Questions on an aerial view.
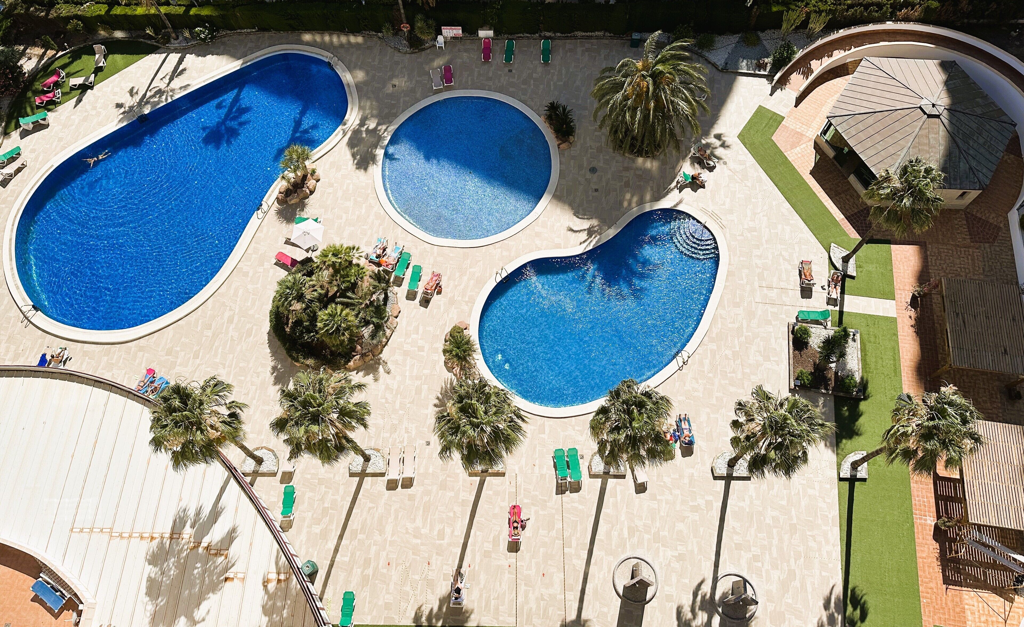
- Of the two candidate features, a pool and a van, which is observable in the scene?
pool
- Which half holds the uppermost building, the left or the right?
right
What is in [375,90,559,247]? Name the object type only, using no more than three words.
swimming pool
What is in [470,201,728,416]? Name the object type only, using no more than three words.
swimming pool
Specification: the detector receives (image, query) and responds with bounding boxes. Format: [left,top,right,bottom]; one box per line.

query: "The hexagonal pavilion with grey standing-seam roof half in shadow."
[821,56,1018,204]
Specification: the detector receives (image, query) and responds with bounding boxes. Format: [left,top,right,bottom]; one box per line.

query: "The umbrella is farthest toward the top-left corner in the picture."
[290,218,324,251]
